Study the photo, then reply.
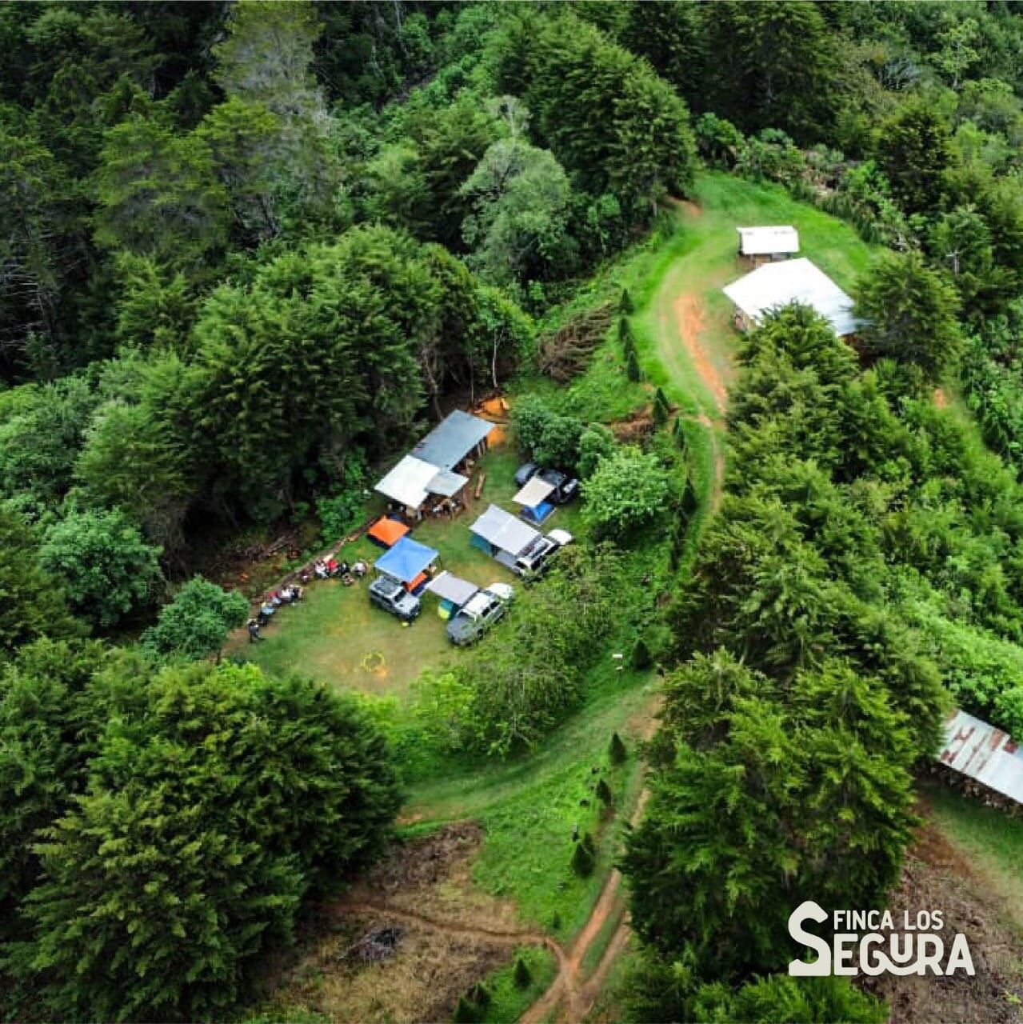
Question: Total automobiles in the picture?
4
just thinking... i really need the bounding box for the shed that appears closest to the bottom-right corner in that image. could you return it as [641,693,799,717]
[925,714,1023,824]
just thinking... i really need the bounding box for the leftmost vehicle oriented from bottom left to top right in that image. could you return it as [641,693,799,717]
[444,570,523,649]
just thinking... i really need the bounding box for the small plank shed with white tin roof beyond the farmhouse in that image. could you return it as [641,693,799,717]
[736,226,800,273]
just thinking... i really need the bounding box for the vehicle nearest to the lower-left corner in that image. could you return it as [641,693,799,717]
[359,571,434,630]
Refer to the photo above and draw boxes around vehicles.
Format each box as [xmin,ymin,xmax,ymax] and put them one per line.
[512,518,577,584]
[359,571,434,630]
[444,570,523,649]
[506,448,587,503]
